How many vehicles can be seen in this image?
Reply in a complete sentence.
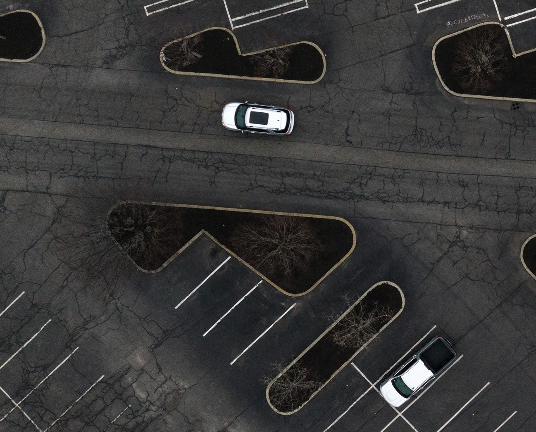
In total, 2 vehicles can be seen.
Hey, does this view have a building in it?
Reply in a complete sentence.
No, the photo shows no building.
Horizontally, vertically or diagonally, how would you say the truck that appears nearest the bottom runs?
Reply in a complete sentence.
The truck that appears nearest the bottom is oriented diagonally.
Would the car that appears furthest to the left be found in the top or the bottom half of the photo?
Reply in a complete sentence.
Seen from above, the car that appears furthest to the left lies in the top half of the view.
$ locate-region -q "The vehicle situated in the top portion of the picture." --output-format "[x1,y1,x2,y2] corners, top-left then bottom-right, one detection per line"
[222,100,295,135]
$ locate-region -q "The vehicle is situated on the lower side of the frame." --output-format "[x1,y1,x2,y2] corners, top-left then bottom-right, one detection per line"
[383,334,458,408]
